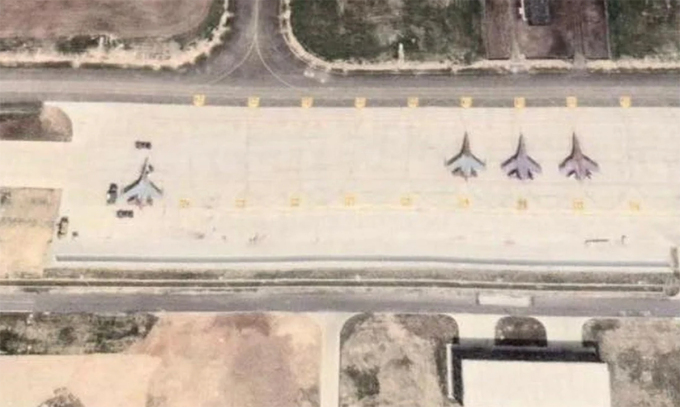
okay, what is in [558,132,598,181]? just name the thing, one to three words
airplane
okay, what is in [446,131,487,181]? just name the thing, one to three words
airplane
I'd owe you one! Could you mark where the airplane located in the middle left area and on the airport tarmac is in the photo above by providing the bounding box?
[122,158,162,208]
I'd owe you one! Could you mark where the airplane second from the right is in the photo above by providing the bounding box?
[501,131,542,181]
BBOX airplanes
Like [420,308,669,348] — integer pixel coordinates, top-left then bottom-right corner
[446,131,487,181]
[501,131,542,181]
[122,158,162,208]
[558,132,598,181]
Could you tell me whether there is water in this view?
No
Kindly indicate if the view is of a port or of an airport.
airport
